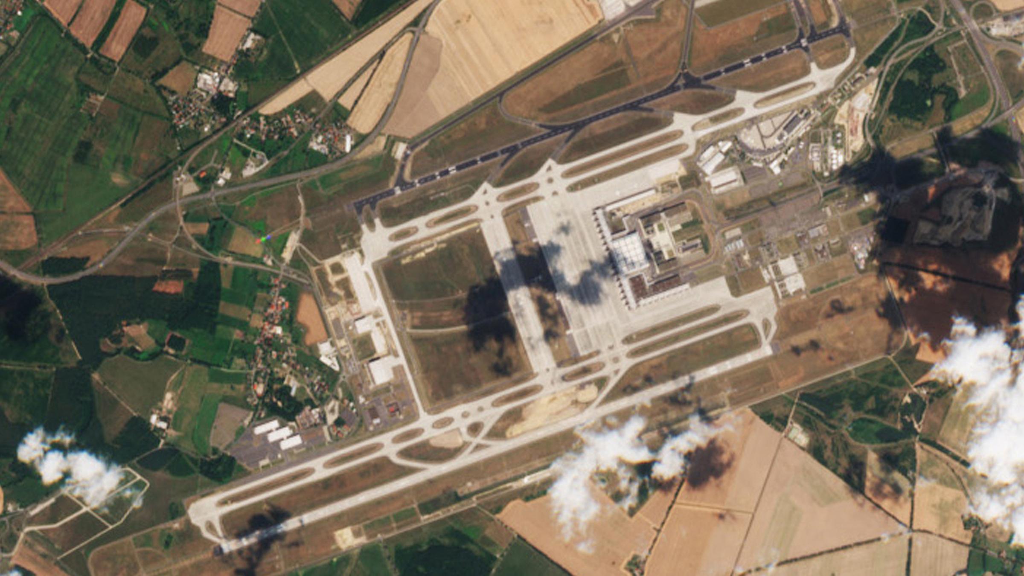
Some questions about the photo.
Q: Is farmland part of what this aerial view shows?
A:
Yes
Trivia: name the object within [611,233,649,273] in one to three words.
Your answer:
building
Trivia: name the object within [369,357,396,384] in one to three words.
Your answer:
hangar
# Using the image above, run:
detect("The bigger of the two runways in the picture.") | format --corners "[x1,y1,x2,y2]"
[214,343,780,555]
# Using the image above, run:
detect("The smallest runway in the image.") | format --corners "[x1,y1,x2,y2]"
[346,20,857,210]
